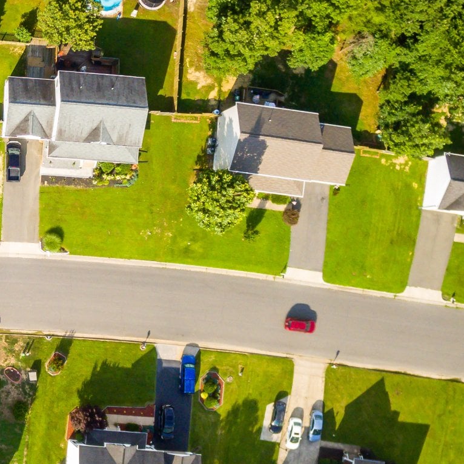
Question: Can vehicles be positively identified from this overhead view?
Yes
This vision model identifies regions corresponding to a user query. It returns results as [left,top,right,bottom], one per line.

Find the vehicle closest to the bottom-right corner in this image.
[309,411,328,444]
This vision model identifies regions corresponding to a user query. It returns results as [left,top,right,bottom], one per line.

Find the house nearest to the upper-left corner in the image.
[2,71,149,165]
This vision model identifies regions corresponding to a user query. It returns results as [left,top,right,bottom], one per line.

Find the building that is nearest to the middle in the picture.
[215,102,355,198]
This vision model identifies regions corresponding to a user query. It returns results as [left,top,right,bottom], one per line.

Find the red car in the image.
[286,318,318,335]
